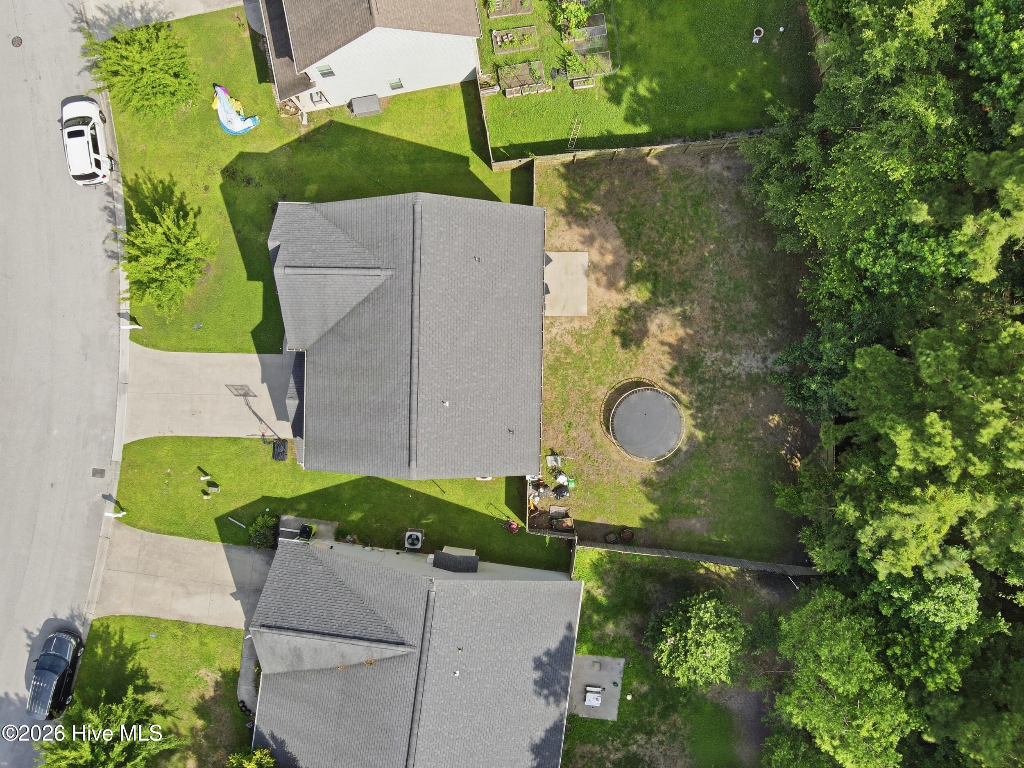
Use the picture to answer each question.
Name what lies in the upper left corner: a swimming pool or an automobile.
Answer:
automobile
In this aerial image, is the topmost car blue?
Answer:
No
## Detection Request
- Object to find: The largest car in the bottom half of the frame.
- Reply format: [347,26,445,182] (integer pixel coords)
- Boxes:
[23,625,89,724]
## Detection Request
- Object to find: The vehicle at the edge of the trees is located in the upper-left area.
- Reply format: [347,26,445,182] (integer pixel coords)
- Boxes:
[59,100,114,191]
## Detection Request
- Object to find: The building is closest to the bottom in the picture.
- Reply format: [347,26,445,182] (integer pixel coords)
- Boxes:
[247,532,585,768]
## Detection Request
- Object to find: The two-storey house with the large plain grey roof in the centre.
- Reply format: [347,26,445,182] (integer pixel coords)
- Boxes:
[267,192,547,481]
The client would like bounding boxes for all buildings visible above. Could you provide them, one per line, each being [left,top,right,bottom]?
[257,0,484,120]
[247,532,585,768]
[267,192,547,481]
